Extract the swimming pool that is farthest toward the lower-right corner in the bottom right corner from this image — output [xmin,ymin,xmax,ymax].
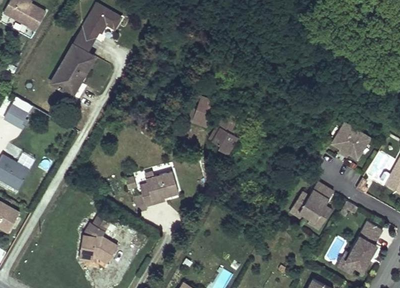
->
[324,238,346,264]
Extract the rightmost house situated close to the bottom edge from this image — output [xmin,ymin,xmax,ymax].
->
[340,220,382,276]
